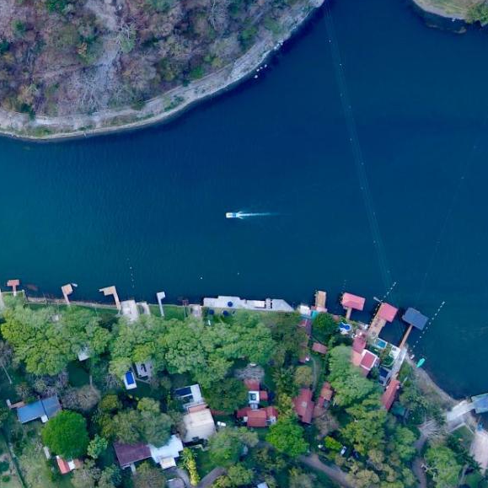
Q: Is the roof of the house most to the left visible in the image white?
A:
No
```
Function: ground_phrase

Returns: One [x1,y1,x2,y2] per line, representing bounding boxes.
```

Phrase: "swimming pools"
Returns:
[123,370,136,390]
[375,337,388,350]
[337,322,353,335]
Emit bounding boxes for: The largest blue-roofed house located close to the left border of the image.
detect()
[6,393,61,423]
